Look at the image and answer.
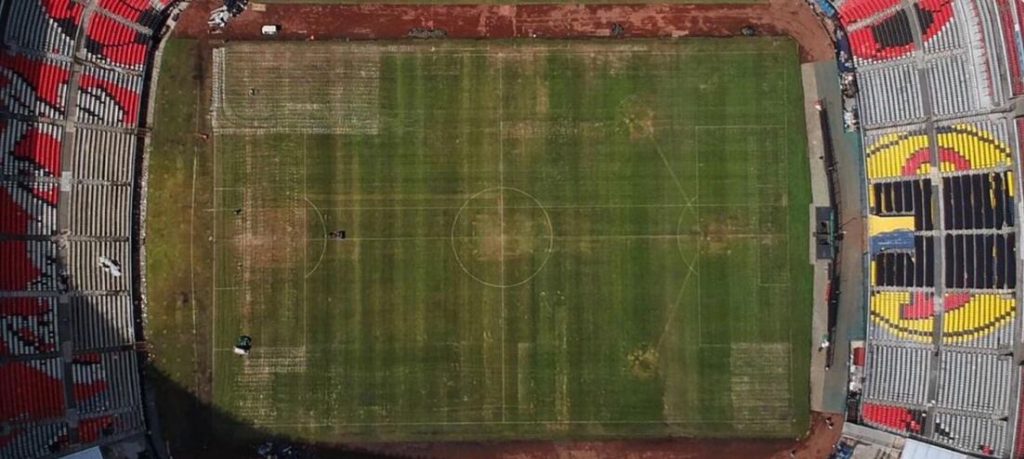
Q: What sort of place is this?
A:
sports ground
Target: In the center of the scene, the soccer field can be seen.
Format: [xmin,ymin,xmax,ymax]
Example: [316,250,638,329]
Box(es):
[147,33,813,444]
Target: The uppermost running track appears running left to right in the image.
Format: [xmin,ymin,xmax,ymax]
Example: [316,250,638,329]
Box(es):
[170,0,835,62]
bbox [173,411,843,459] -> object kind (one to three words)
running track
